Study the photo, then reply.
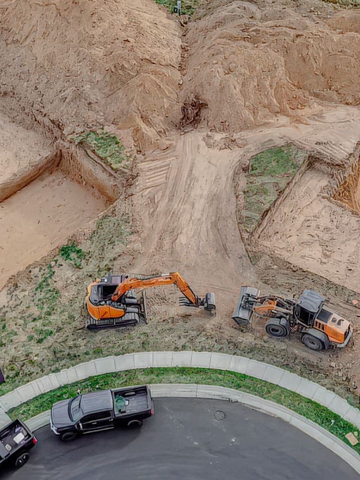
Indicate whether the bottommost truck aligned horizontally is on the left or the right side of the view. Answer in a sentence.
The bottommost truck aligned horizontally sits on the left side.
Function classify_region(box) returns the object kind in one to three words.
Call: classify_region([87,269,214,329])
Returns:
work vehicle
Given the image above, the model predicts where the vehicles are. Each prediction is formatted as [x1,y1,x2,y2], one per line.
[87,269,214,329]
[231,288,352,352]
[0,421,33,480]
[50,382,154,440]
